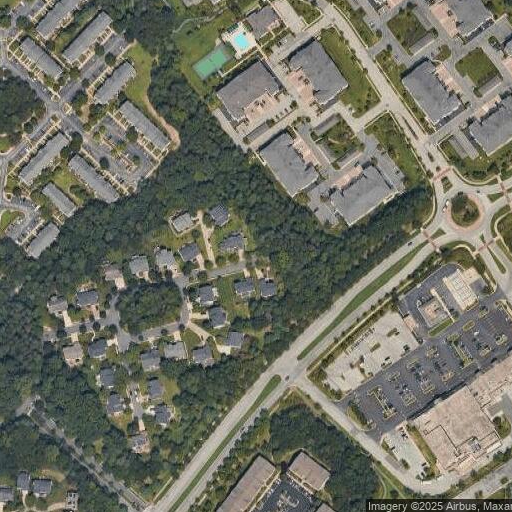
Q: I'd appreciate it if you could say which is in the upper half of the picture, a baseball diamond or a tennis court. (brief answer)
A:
tennis court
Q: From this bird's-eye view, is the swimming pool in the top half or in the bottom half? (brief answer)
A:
top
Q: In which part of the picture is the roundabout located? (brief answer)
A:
right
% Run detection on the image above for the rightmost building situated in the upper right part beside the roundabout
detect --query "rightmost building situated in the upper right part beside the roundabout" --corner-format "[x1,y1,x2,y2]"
[469,96,512,155]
